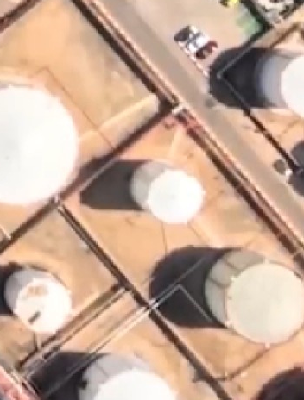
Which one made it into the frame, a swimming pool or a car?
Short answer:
car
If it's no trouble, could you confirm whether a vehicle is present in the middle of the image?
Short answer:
No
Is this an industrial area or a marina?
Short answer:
industrial area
